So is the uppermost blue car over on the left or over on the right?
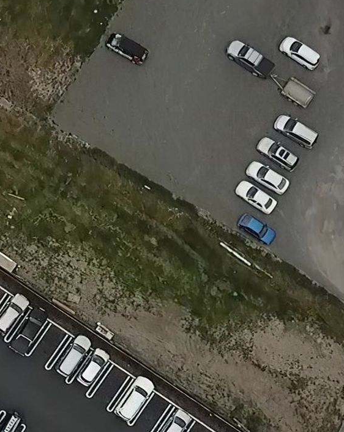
right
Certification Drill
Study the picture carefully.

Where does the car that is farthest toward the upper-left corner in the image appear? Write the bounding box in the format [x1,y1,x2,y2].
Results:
[103,34,151,68]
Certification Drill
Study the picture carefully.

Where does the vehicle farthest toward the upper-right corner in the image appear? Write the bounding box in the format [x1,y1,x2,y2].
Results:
[275,38,322,73]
